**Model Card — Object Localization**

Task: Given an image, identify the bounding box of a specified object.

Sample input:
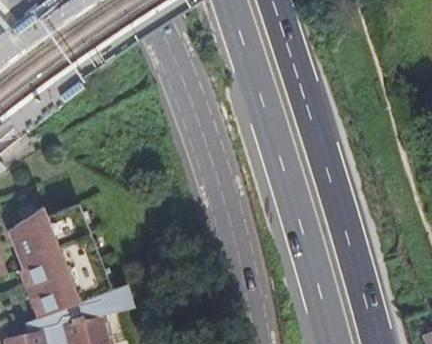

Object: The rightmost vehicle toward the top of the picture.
[281,18,296,42]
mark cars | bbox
[288,232,303,256]
[366,284,380,308]
[164,21,175,33]
[281,18,296,42]
[244,268,258,292]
